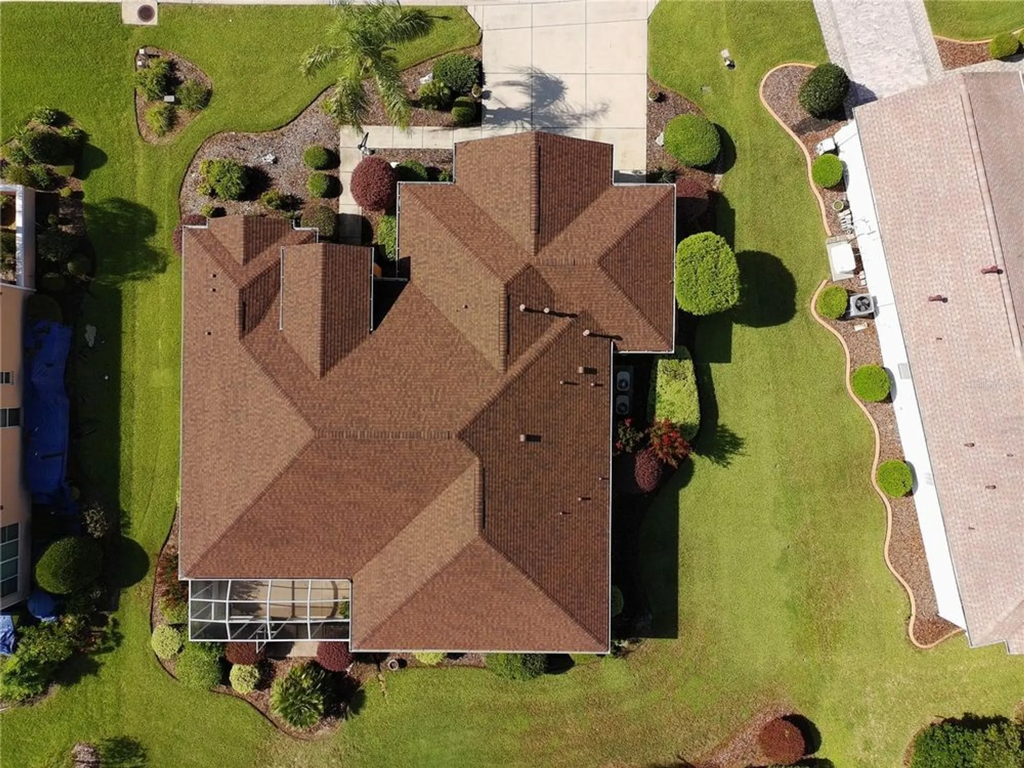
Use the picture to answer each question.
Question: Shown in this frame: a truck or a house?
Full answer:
It is a house that can be seen here.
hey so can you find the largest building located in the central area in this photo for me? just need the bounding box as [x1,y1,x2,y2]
[176,131,678,657]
